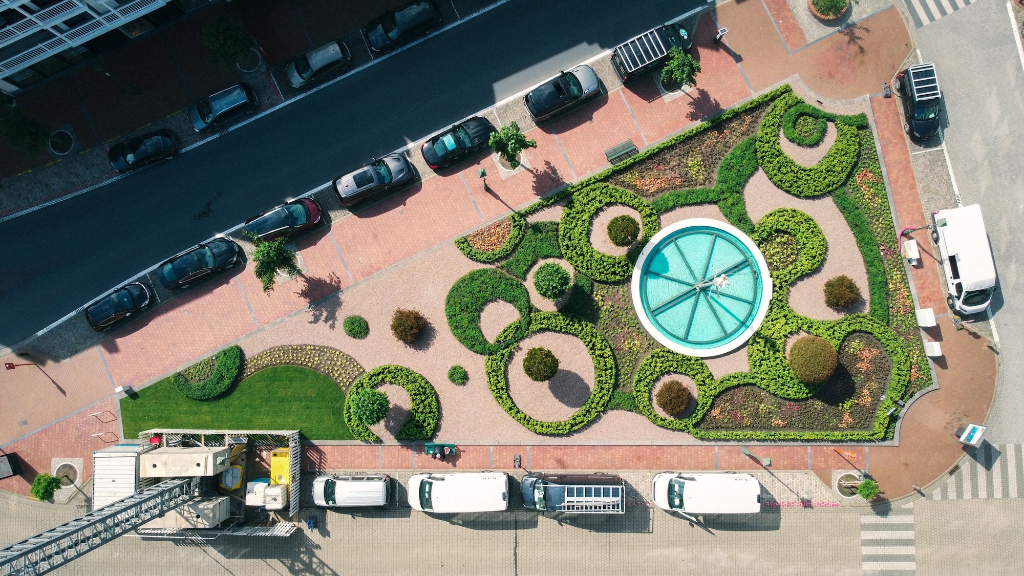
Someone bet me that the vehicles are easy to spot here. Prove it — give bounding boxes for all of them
[523,65,604,123]
[892,60,945,145]
[243,200,324,248]
[187,82,262,134]
[610,25,695,86]
[109,128,180,173]
[313,472,393,510]
[285,37,355,89]
[156,238,244,291]
[422,117,498,169]
[333,152,414,205]
[408,471,511,513]
[520,472,624,512]
[84,282,156,331]
[923,207,990,317]
[650,472,767,524]
[363,0,444,52]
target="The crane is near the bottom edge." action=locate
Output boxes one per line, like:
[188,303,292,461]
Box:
[0,476,221,576]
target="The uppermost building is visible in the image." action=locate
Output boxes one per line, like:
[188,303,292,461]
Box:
[0,0,197,88]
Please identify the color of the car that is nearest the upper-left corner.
black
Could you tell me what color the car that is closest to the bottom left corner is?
black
